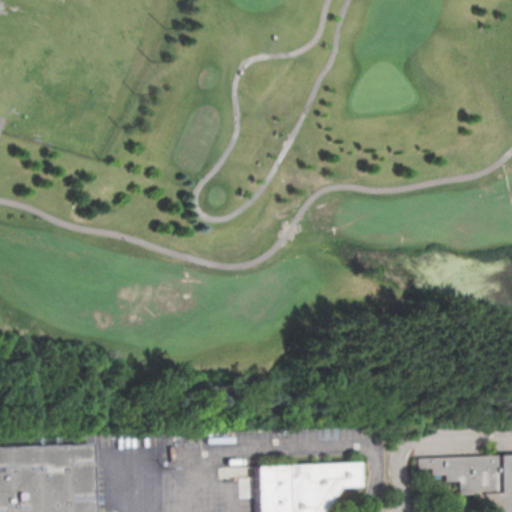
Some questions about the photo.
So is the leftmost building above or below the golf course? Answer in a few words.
below it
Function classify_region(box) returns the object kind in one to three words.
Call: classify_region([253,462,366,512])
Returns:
building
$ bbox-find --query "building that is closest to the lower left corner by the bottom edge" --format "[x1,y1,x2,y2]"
[0,444,96,512]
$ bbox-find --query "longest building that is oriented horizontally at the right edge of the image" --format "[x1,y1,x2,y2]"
[414,455,500,494]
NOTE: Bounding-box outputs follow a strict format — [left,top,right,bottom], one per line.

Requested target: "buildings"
[414,455,500,494]
[0,444,96,512]
[253,462,366,512]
